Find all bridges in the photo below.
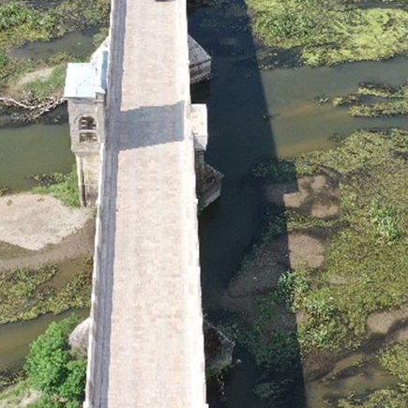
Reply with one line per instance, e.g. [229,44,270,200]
[78,0,236,408]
